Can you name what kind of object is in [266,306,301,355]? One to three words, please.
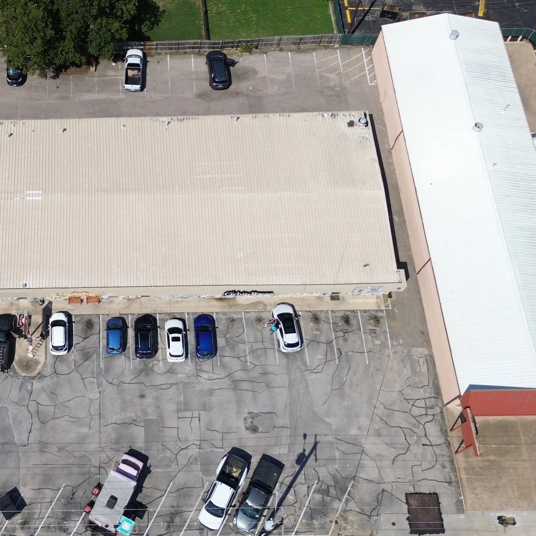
car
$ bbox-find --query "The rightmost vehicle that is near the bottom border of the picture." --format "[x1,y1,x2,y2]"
[235,456,283,536]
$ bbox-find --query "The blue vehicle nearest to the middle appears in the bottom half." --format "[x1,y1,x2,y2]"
[194,318,216,360]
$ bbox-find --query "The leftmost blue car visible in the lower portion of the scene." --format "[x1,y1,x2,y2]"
[106,320,127,356]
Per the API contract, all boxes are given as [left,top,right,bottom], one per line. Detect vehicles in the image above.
[47,316,70,358]
[135,318,158,362]
[194,318,216,360]
[0,317,20,375]
[124,49,143,94]
[235,456,283,536]
[207,52,235,91]
[266,306,301,355]
[87,457,146,536]
[106,320,127,356]
[165,321,187,364]
[201,451,251,534]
